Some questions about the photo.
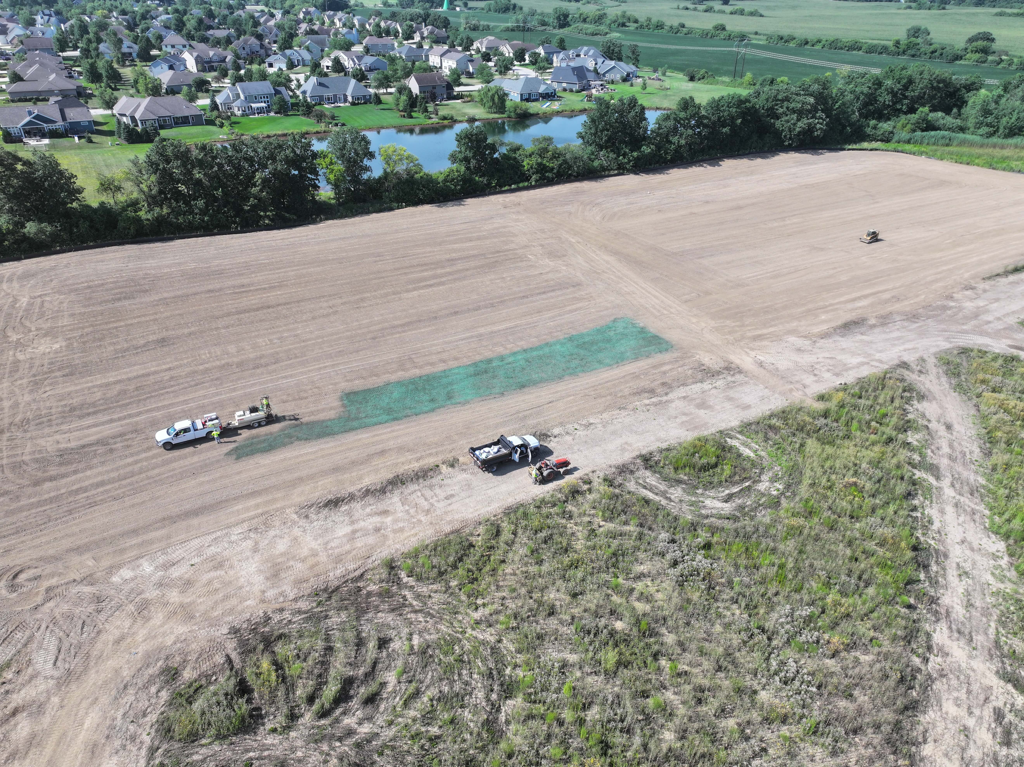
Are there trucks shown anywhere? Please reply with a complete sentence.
Yes, there's a truck here.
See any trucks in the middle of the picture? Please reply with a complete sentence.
Yes, the scene does show a truck in the middle of the picture.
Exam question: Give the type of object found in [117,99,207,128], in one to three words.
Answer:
house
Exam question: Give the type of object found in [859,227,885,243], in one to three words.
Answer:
work vehicle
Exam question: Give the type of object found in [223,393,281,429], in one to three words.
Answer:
trailer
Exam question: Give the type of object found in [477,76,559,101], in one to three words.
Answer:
house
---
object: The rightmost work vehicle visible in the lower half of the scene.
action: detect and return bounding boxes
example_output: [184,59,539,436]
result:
[535,458,569,483]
